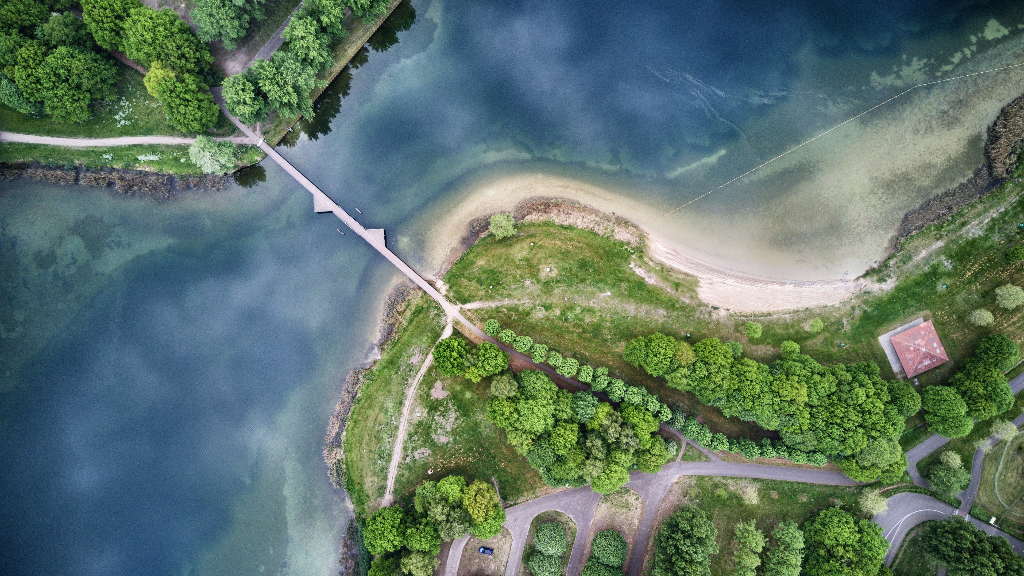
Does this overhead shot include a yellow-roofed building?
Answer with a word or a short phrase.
No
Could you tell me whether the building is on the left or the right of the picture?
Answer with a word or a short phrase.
right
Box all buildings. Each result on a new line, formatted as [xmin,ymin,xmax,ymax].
[890,320,949,379]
